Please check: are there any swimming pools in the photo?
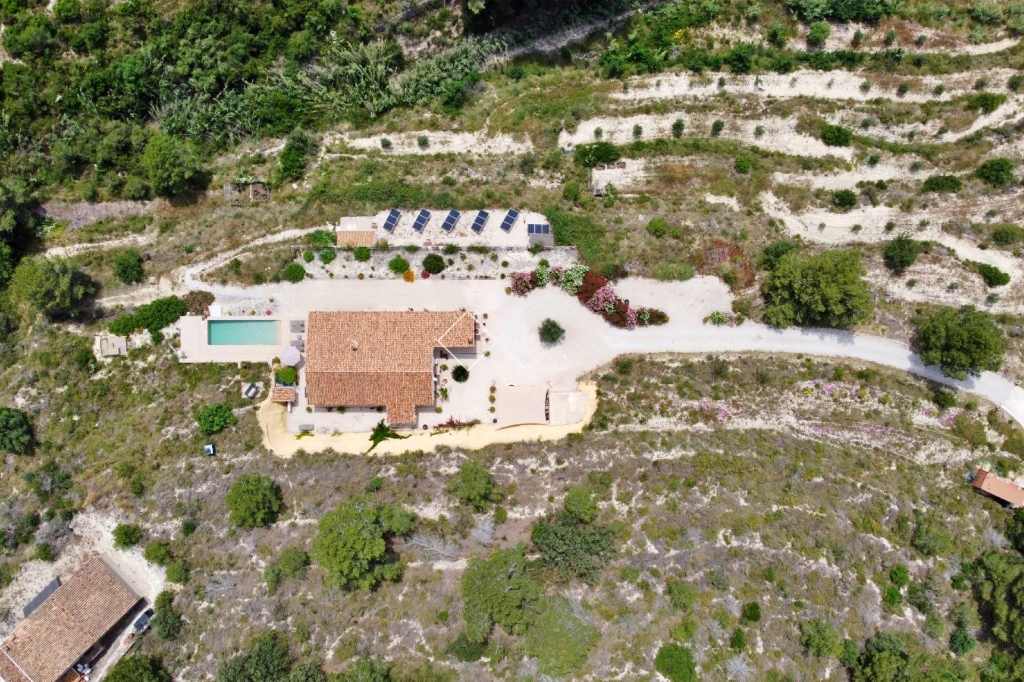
Yes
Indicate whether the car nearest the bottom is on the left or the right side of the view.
left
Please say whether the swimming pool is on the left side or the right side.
left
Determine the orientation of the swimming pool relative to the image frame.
from left to right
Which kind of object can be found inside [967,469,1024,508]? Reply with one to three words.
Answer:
building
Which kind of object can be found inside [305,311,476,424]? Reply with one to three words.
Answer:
house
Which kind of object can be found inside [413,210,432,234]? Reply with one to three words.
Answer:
solar array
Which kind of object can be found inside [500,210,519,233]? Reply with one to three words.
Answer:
solar array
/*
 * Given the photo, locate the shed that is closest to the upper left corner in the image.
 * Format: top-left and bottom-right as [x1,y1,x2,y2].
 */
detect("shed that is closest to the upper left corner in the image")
[336,216,379,246]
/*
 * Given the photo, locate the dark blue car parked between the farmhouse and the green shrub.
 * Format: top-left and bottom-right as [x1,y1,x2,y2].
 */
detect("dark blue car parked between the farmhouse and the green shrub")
[131,608,158,633]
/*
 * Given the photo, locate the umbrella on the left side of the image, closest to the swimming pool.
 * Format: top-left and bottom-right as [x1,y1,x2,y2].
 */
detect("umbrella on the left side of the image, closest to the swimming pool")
[282,344,301,363]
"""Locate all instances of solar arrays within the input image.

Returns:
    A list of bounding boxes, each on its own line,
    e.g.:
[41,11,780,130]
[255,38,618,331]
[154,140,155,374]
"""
[500,210,519,233]
[528,224,549,234]
[383,210,402,233]
[471,210,490,234]
[413,210,432,234]
[442,210,461,234]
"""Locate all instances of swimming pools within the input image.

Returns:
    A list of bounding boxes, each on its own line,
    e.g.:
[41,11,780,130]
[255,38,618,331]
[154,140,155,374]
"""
[205,317,283,347]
